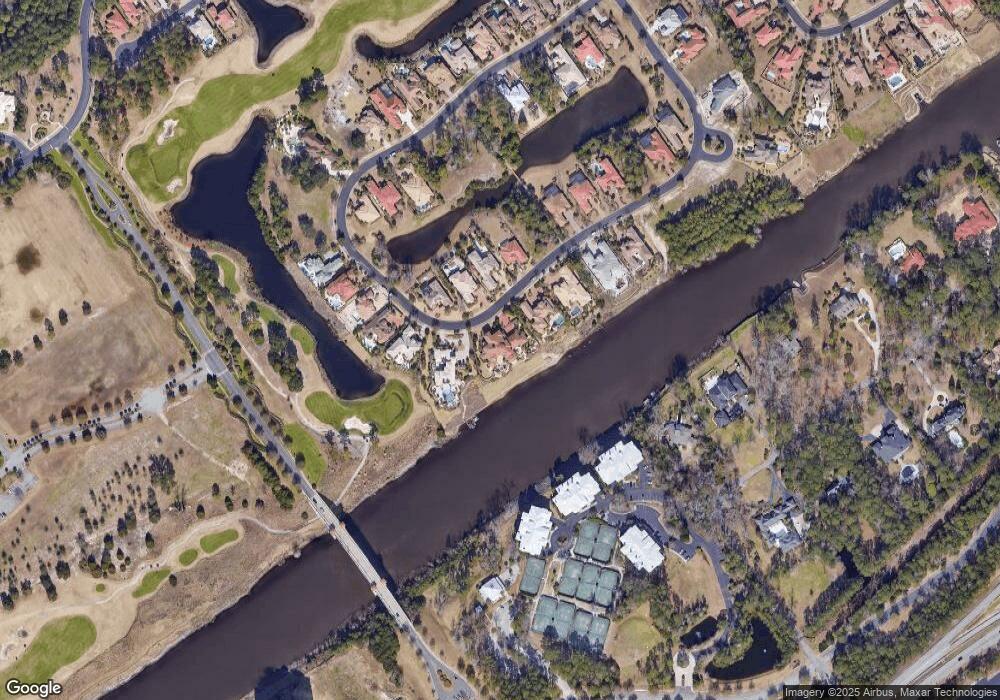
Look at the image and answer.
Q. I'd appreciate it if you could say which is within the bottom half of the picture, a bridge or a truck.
bridge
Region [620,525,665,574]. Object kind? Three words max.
building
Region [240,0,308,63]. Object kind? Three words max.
pond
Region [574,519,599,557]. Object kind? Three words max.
tennis court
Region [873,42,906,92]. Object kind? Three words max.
house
